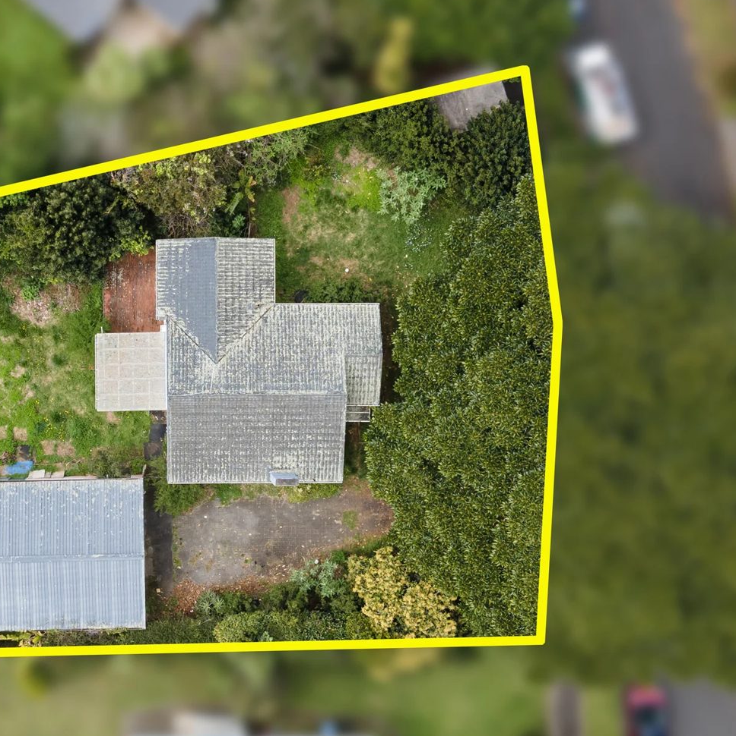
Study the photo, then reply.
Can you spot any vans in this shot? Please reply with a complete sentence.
Yes, a van can be made out from above.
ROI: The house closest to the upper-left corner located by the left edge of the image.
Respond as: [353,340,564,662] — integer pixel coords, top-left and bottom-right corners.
[26,0,132,50]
